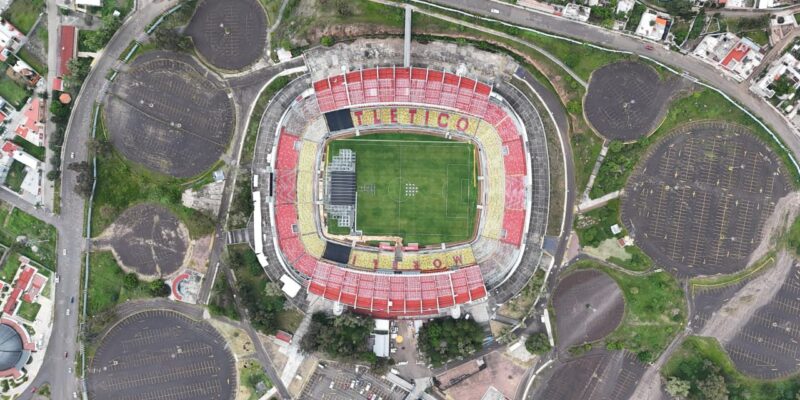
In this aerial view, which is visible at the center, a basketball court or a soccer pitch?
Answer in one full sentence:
Visible at the center is a soccer pitch.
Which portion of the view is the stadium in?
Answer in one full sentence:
The stadium appears toward the center of the photo.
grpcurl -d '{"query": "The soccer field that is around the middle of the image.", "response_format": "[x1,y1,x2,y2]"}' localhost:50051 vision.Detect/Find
[323,132,478,242]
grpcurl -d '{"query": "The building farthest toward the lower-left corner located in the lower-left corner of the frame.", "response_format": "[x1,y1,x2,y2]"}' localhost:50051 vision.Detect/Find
[0,315,40,379]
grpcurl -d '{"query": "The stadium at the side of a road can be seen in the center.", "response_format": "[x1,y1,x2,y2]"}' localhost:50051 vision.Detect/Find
[225,55,561,321]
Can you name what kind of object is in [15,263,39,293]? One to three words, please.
house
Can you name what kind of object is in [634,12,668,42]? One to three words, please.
house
